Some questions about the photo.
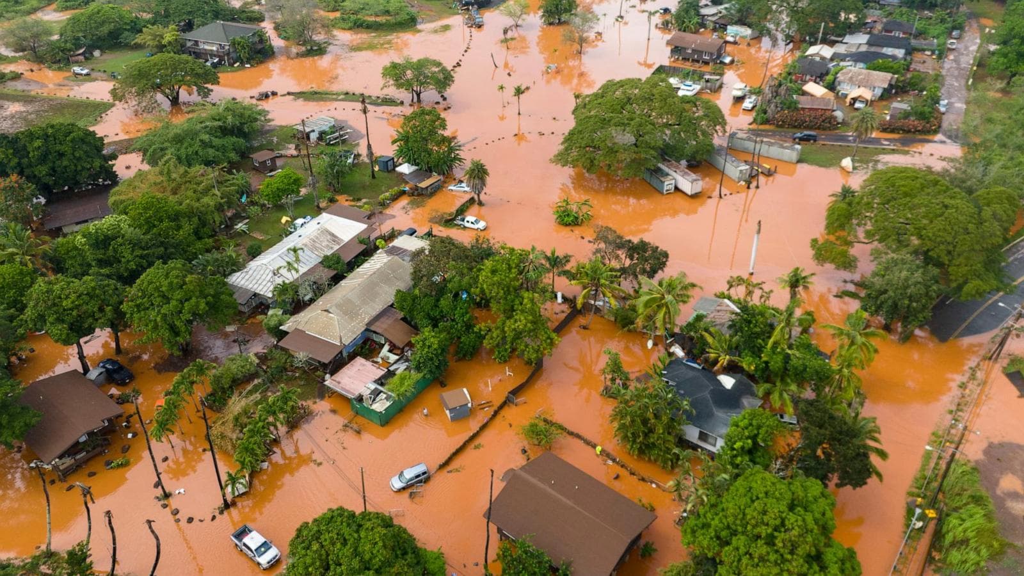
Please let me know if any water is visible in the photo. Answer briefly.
Yes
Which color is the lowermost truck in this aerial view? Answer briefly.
white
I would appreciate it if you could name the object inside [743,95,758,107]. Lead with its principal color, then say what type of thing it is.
white vehicle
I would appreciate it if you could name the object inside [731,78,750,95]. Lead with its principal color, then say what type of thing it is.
white boat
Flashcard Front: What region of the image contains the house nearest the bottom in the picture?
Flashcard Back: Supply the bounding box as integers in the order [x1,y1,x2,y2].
[482,454,660,576]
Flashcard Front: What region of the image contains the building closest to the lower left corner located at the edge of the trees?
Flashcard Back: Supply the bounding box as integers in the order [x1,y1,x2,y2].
[14,373,128,480]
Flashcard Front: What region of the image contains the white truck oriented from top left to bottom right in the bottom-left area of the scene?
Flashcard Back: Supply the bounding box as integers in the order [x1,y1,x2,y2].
[229,525,279,567]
